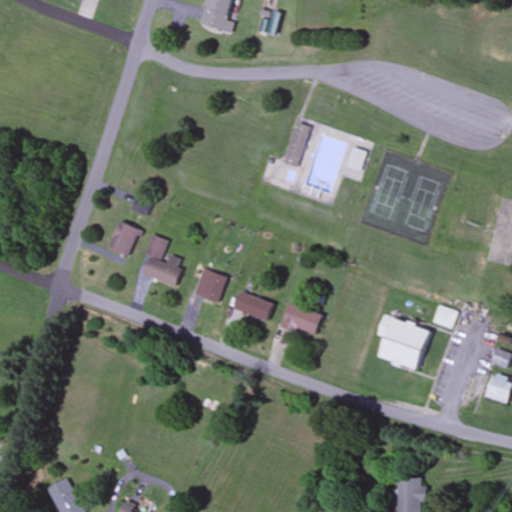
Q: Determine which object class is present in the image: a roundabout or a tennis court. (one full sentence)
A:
The one in the frame is a tennis court.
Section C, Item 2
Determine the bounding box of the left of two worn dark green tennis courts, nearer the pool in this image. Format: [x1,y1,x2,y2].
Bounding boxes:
[362,150,419,233]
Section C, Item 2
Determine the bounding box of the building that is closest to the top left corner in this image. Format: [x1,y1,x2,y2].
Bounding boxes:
[201,0,238,32]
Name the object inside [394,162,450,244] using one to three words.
tennis court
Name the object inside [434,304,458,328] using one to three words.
building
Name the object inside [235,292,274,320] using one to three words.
house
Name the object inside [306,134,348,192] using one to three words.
swimming pool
